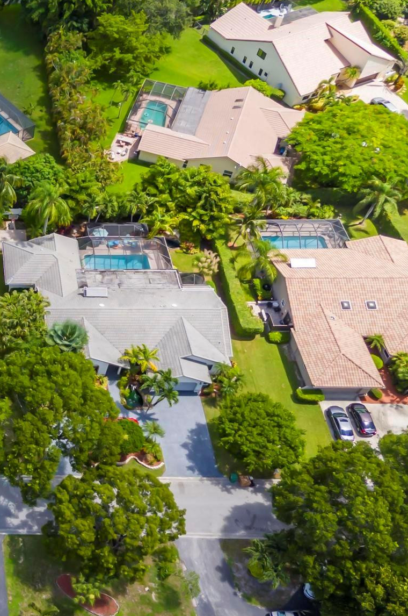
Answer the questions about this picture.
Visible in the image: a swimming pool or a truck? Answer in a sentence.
The one in the frame is a swimming pool.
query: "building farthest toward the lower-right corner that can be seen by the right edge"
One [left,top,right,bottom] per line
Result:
[274,234,408,398]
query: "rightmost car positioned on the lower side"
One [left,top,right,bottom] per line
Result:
[348,403,377,436]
